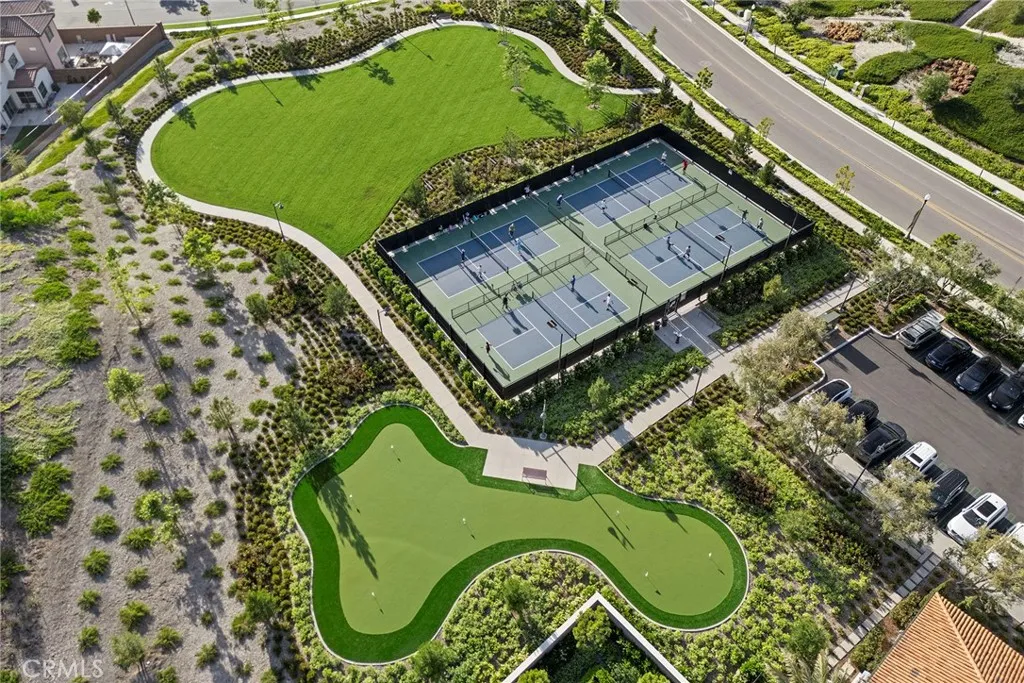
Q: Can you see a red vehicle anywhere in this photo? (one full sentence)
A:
No, the picture doesn't show any red vehicle.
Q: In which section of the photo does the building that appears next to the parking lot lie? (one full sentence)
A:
You can find the building that appears next to the parking lot in the bottom right area of the picture.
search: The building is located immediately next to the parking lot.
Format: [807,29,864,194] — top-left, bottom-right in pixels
[867,591,1024,683]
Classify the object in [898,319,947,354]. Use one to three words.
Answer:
car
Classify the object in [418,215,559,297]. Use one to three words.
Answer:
sports court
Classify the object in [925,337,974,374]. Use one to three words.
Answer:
car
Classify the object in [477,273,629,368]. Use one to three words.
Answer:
sports court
